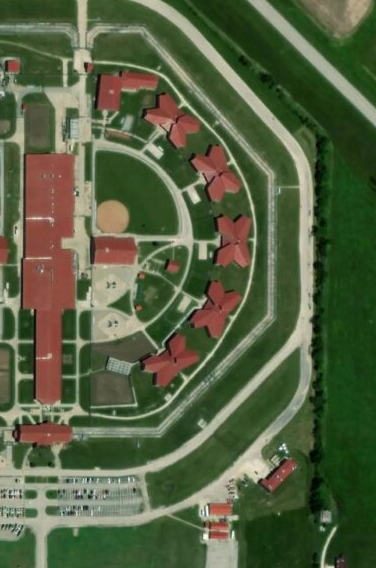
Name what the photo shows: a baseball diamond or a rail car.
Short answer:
baseball diamond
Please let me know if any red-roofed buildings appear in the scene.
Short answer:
Yes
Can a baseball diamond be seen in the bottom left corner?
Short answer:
No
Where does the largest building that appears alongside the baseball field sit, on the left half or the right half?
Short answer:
left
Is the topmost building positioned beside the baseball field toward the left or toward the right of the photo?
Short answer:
left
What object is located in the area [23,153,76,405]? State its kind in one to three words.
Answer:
building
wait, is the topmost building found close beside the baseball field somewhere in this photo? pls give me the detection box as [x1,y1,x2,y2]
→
[98,71,159,110]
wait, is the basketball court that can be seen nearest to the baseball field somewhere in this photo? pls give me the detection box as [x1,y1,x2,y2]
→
[93,266,135,306]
